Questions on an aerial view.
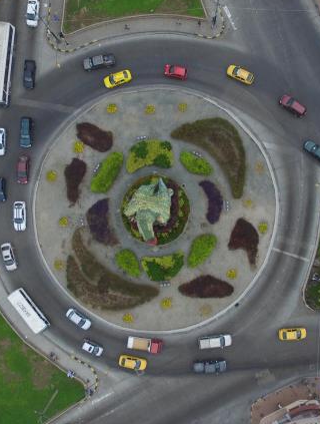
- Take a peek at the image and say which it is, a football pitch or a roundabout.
roundabout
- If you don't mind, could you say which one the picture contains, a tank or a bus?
bus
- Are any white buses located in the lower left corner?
Yes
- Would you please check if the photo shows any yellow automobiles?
Yes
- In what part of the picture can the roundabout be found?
center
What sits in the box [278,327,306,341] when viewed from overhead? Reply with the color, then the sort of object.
yellow vehicle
